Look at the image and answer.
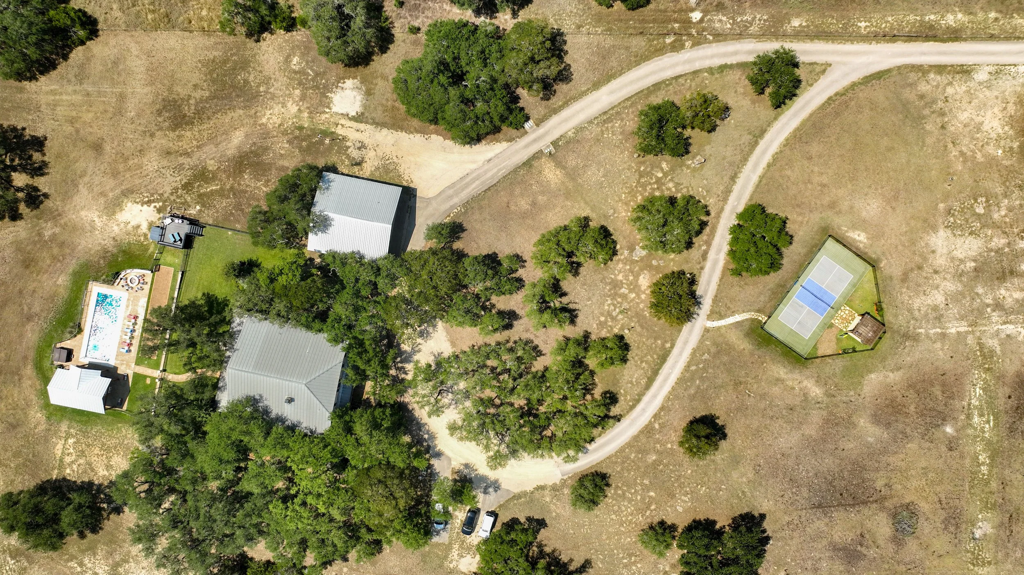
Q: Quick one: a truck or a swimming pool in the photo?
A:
swimming pool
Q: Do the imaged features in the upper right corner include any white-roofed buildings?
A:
No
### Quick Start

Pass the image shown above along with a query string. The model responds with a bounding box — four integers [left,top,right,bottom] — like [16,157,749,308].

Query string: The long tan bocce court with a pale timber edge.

[139,265,174,359]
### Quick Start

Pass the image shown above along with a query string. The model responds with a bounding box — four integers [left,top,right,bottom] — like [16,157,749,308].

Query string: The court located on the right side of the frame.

[764,238,870,357]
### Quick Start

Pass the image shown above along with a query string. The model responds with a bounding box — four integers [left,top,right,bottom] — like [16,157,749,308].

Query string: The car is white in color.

[478,511,495,541]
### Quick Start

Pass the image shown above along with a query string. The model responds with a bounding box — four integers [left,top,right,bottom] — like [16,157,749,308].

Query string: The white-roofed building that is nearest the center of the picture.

[307,172,404,265]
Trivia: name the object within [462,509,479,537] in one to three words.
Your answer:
car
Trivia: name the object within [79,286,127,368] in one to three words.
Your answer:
swimming pool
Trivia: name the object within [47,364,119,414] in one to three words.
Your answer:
building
